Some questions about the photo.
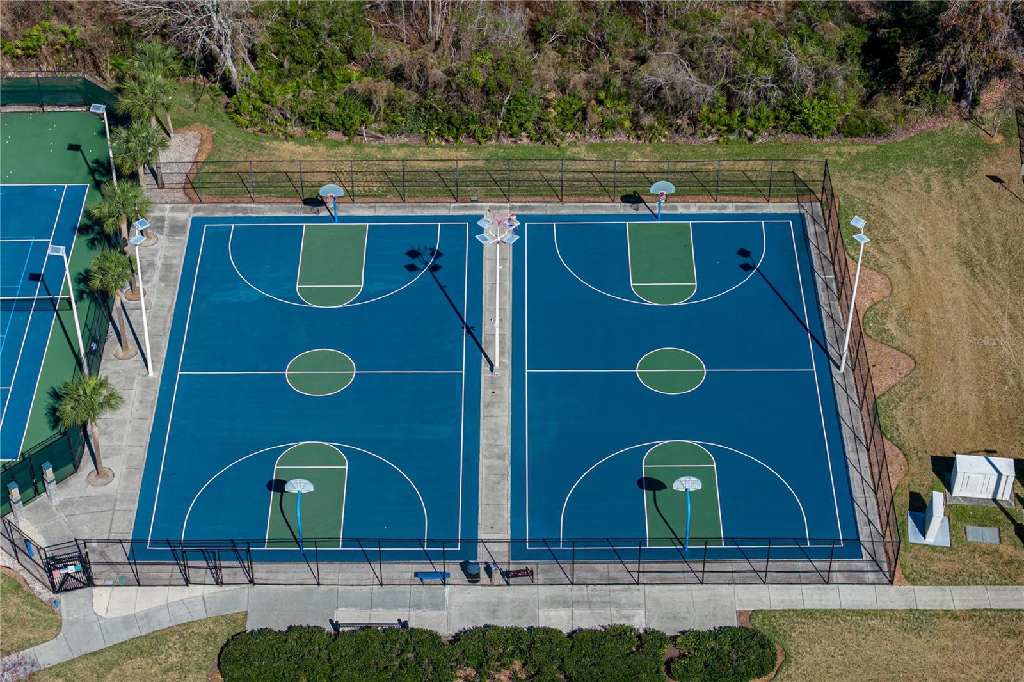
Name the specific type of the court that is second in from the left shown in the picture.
basketball court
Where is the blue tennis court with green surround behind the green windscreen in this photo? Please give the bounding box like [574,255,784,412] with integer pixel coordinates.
[0,110,137,513]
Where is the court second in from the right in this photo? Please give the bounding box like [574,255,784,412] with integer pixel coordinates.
[127,212,486,562]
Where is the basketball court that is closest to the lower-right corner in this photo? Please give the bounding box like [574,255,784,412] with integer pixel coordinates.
[507,211,862,561]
